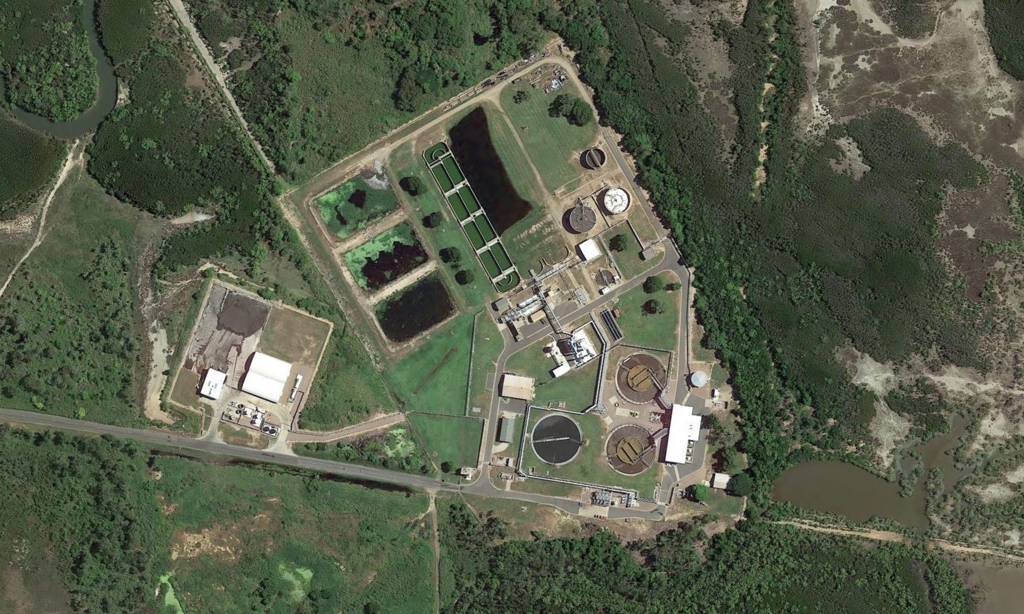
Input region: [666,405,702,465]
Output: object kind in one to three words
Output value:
building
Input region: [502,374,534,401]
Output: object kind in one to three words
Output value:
building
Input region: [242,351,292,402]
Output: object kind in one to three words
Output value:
hangar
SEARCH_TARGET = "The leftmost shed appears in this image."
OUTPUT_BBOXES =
[199,368,226,399]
